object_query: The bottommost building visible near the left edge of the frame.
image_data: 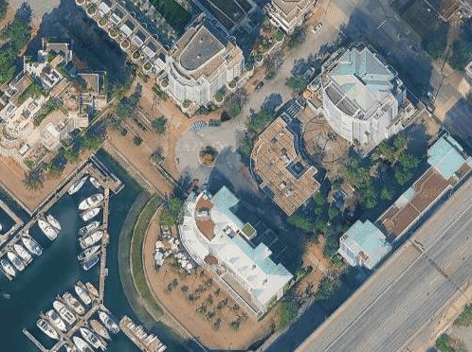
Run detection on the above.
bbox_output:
[0,43,107,167]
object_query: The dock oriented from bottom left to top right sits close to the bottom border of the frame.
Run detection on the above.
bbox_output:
[43,302,102,352]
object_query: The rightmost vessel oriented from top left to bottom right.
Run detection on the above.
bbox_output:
[120,316,172,352]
